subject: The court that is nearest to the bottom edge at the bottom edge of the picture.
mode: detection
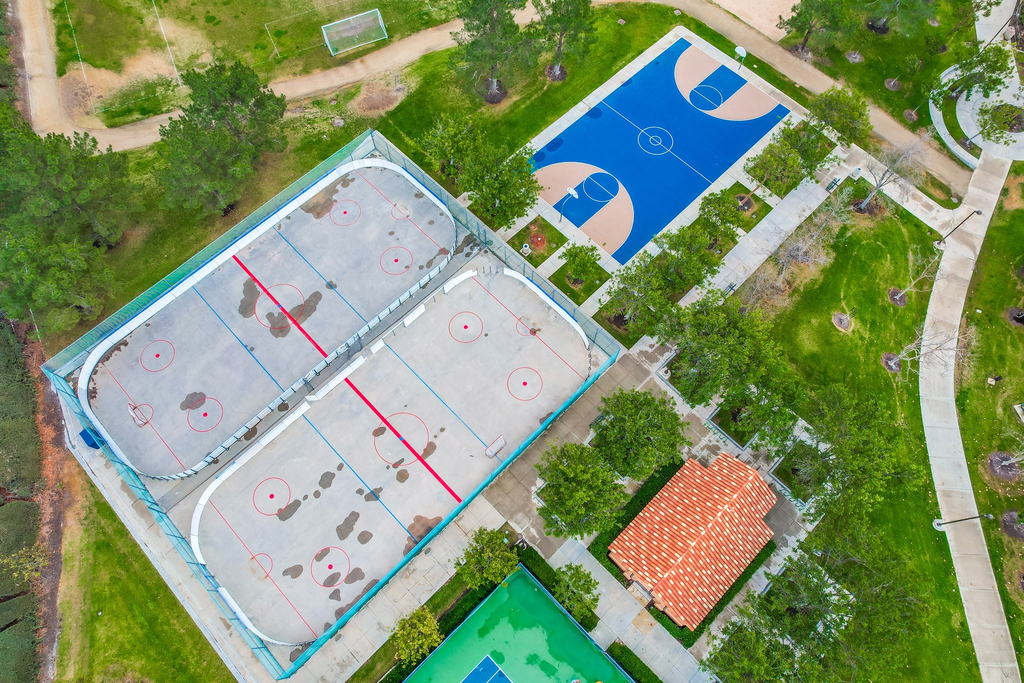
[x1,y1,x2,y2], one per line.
[408,564,631,683]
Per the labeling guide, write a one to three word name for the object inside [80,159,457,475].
sports court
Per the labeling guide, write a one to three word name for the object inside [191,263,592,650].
sports court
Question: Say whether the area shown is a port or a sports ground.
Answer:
sports ground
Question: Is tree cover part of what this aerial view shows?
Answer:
Yes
